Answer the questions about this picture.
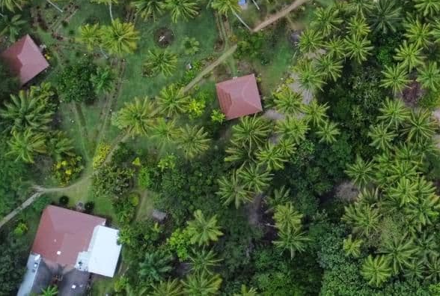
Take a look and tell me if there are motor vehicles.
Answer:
No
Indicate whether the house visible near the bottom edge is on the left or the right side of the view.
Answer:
left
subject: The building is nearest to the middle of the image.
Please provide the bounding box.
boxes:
[216,73,266,123]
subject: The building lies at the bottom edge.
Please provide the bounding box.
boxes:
[19,207,122,296]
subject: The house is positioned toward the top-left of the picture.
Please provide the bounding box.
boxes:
[0,34,55,88]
